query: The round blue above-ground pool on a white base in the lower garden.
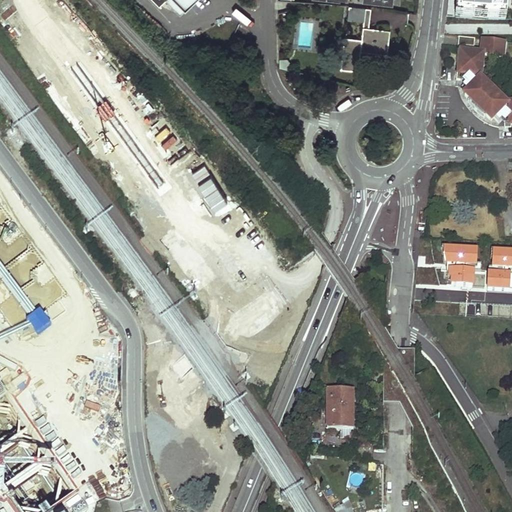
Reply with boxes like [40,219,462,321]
[346,471,366,488]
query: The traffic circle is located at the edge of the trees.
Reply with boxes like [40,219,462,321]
[322,90,432,206]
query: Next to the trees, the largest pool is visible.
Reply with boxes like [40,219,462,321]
[292,19,318,53]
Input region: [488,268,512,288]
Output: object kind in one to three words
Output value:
house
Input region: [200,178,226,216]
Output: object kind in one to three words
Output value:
building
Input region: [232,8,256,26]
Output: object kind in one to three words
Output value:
vehicle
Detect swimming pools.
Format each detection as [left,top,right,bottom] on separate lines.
[346,471,366,488]
[292,19,318,53]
